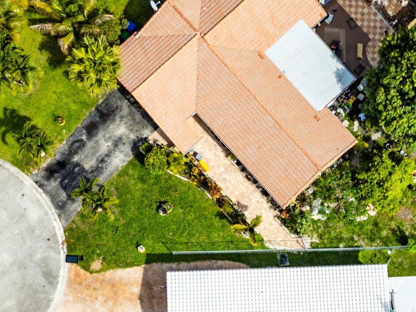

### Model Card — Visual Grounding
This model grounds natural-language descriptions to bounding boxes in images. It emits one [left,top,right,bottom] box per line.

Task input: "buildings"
[119,0,358,209]
[167,264,390,312]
